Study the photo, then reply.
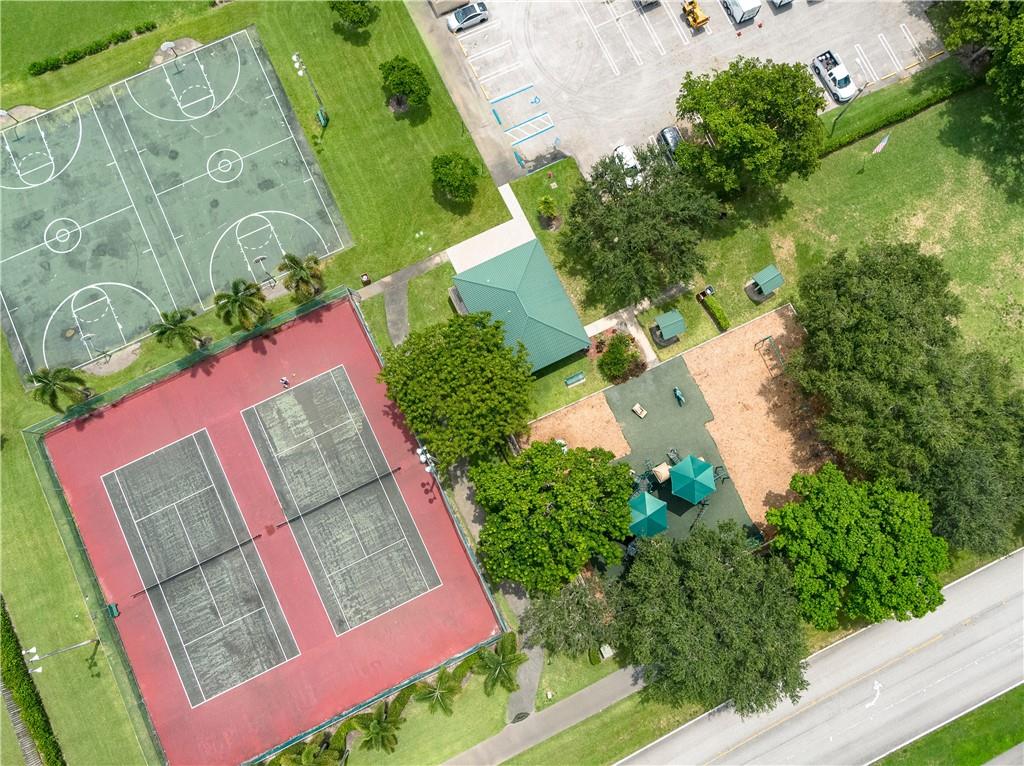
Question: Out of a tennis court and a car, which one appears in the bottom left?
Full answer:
The feature located in the bottom left is a tennis court.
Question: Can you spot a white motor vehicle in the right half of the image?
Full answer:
Yes, the scene does show a white motor vehicle in the right half of the image.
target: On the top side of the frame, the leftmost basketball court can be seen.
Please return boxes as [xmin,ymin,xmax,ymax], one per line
[0,89,190,392]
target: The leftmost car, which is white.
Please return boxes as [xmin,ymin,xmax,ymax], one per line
[447,1,489,32]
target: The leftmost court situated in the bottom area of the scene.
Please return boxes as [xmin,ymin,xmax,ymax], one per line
[43,366,335,766]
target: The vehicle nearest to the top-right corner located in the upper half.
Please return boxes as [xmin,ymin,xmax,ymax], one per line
[814,49,857,102]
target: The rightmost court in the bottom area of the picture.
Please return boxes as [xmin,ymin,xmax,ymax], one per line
[191,296,500,716]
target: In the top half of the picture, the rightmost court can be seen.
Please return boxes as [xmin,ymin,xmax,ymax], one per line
[97,23,355,318]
